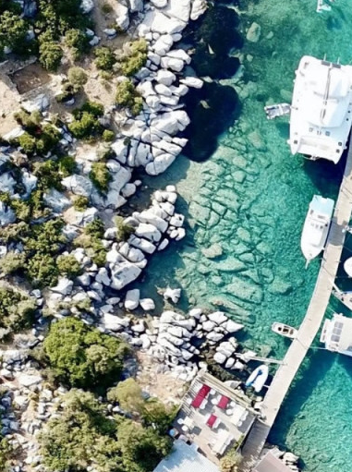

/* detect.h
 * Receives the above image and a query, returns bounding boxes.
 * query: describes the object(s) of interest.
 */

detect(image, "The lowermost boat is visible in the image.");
[244,365,270,394]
